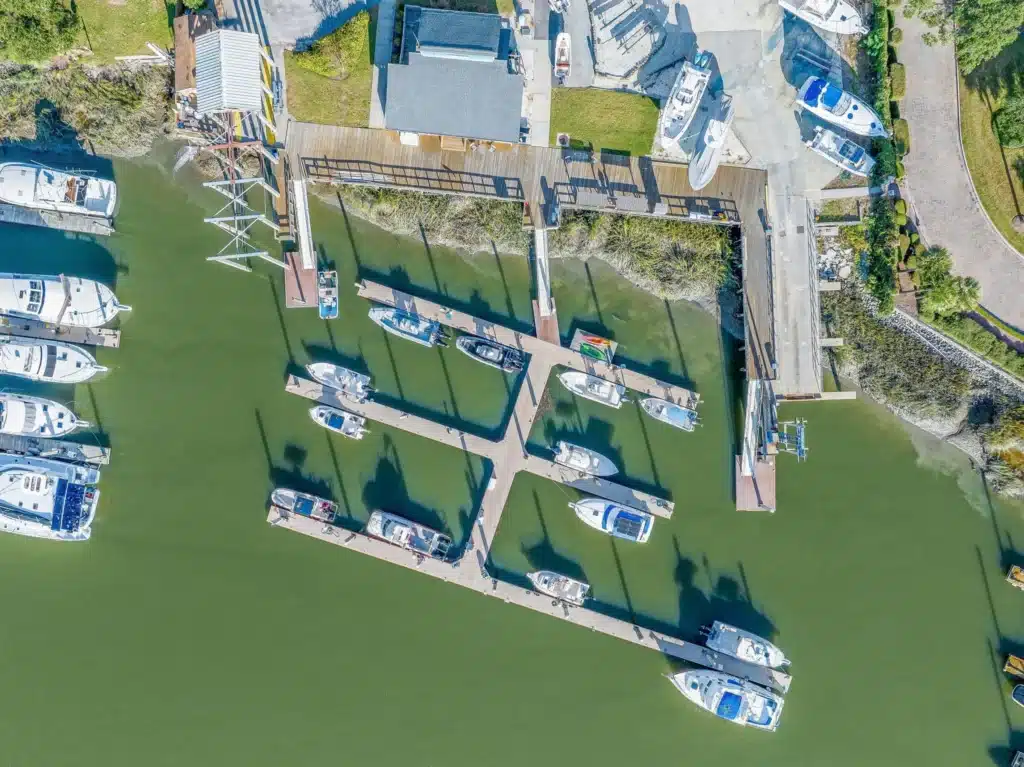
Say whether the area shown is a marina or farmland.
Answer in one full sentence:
The picture captures a marina.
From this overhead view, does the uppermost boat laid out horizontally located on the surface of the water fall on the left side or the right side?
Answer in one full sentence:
You can find the uppermost boat laid out horizontally located on the surface of the water on the left side of the picture.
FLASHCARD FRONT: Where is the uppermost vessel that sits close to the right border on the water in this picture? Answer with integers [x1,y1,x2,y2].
[999,560,1024,590]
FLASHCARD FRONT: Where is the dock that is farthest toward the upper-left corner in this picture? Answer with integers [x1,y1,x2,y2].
[0,203,115,237]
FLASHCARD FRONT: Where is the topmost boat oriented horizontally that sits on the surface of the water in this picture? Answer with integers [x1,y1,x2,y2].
[0,153,121,222]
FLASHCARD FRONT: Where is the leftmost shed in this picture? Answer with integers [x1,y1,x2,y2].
[195,28,273,128]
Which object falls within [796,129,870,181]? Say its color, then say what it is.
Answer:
white boat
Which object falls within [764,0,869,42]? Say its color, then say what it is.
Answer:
white boat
